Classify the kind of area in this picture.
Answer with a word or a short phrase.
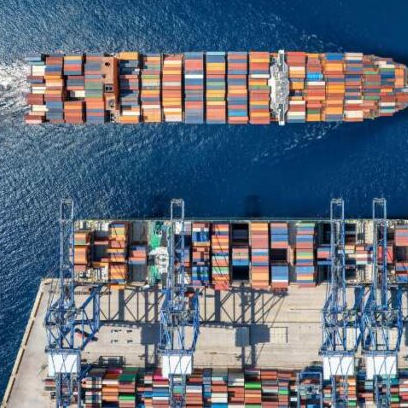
port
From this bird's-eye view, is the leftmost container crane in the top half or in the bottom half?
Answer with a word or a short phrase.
bottom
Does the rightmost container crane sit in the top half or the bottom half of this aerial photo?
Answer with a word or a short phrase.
bottom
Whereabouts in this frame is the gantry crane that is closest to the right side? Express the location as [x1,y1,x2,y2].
[358,201,408,404]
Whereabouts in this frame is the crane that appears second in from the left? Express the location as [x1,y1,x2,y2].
[148,201,225,404]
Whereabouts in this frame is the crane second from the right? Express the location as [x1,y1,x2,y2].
[315,201,372,404]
